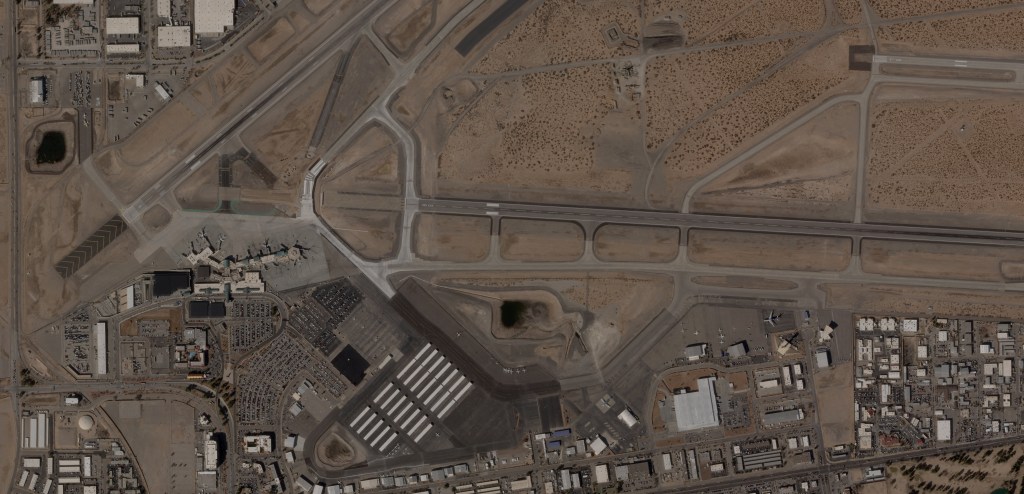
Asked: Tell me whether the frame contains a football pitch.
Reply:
No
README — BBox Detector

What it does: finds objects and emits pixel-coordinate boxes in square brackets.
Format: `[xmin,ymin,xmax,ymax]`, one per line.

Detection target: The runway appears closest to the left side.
[122,0,398,222]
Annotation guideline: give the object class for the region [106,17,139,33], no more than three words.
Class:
building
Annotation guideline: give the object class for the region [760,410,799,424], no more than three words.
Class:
building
